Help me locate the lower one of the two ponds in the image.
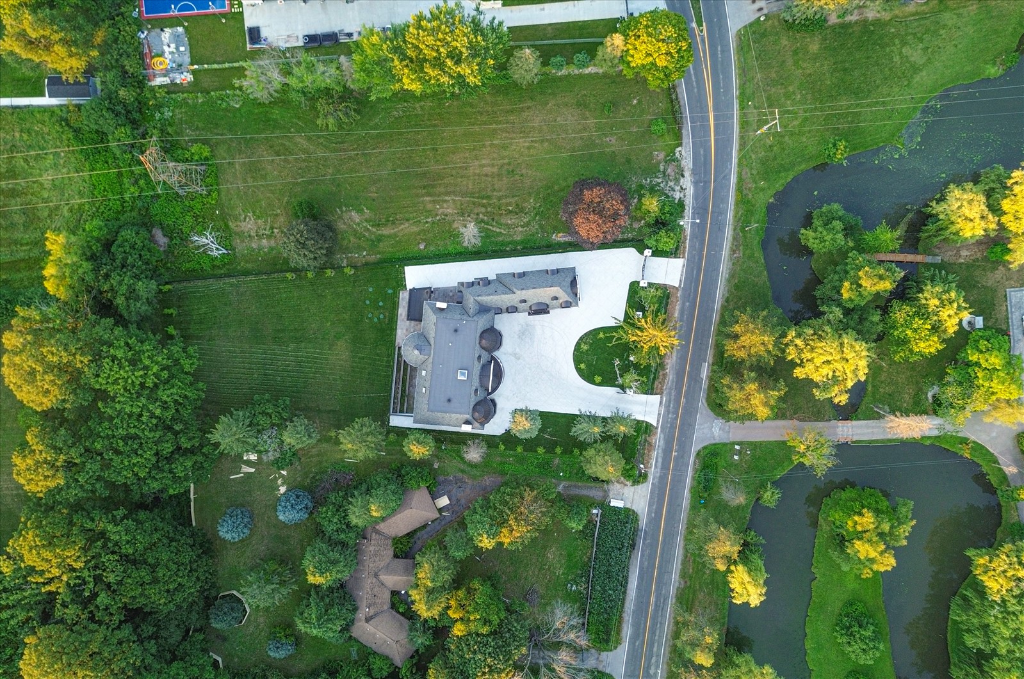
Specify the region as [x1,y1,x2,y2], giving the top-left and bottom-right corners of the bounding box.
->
[725,441,998,679]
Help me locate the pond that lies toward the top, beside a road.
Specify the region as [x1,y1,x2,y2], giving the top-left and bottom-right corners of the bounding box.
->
[764,48,1024,418]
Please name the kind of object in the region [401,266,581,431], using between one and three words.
house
